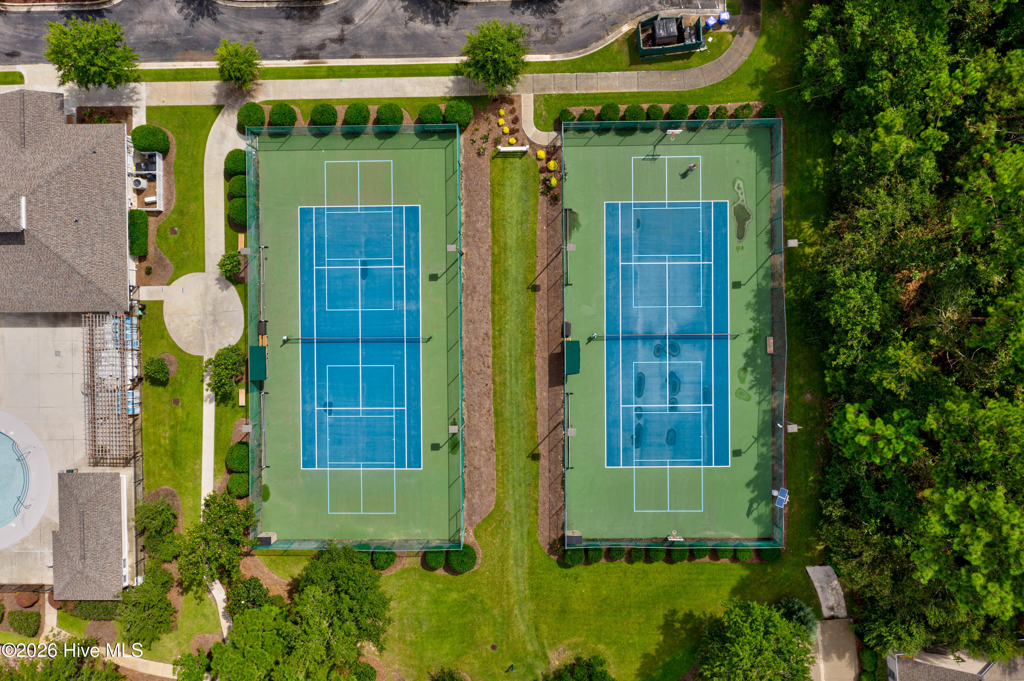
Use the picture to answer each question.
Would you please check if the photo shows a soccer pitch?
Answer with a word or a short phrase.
No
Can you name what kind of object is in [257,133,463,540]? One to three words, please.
tennis court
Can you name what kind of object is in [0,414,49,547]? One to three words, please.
swimming pool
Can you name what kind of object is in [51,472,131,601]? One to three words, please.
building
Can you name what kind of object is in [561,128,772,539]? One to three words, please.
tennis court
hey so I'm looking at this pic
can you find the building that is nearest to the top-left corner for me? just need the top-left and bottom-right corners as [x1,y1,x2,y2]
[0,88,139,313]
